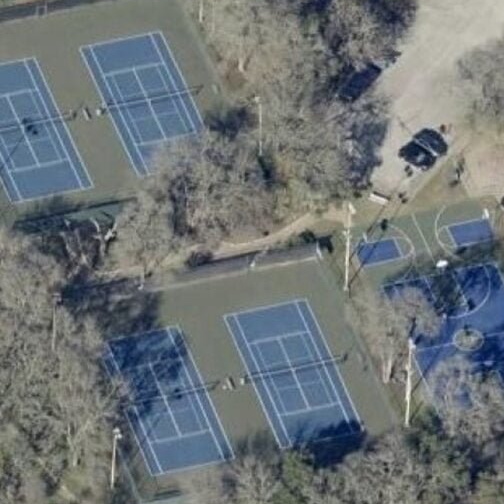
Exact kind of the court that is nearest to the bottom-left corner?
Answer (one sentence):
I'd say the court that is nearest to the bottom-left corner is a tennis court.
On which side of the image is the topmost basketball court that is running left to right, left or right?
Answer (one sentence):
You can find the topmost basketball court that is running left to right on the right side of the picture.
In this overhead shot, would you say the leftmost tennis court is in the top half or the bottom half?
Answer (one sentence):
The top half of the photo is where the leftmost tennis court is.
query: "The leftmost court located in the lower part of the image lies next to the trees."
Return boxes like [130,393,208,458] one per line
[95,324,235,475]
